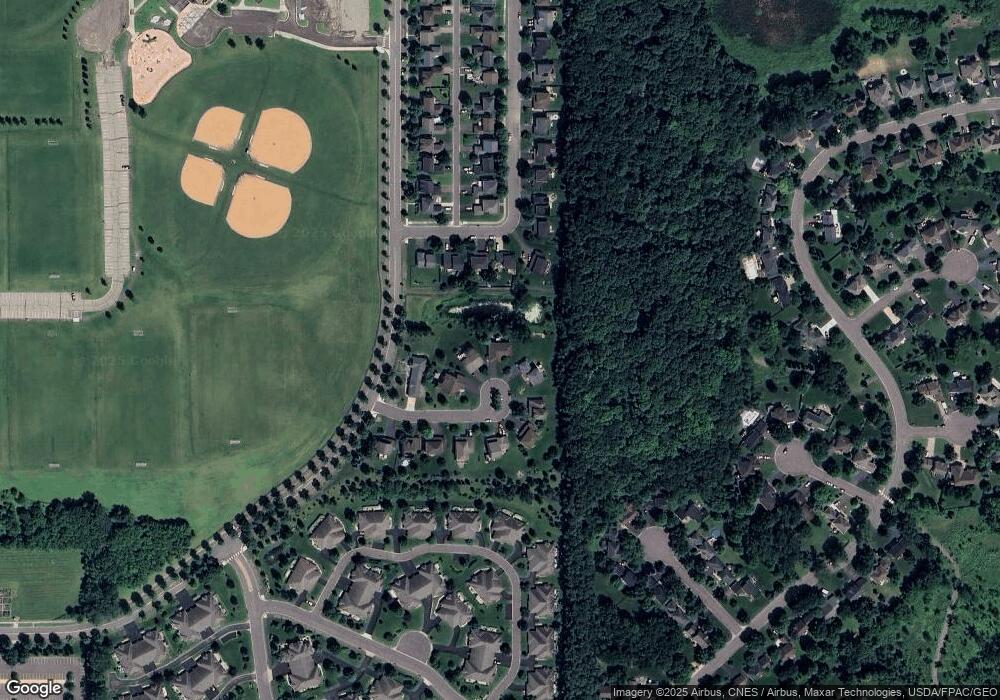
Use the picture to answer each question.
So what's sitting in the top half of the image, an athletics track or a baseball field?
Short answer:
baseball field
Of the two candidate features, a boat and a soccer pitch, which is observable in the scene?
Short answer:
soccer pitch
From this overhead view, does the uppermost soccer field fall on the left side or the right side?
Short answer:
left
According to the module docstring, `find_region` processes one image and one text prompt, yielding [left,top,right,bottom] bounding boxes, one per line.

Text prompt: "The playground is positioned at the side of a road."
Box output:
[128,29,192,104]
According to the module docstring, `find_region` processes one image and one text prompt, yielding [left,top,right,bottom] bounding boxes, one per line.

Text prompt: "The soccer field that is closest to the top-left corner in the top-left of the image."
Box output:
[0,62,70,114]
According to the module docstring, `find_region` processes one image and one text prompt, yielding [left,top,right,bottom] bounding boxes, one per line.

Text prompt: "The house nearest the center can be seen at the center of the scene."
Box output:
[489,339,512,364]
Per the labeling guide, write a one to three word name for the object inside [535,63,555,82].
house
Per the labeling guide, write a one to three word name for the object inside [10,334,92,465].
soccer field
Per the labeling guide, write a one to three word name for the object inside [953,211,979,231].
house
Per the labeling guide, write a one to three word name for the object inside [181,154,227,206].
baseball field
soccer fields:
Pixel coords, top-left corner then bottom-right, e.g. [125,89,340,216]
[10,334,92,465]
[9,144,96,274]
[192,312,280,444]
[0,62,70,114]
[100,334,176,465]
